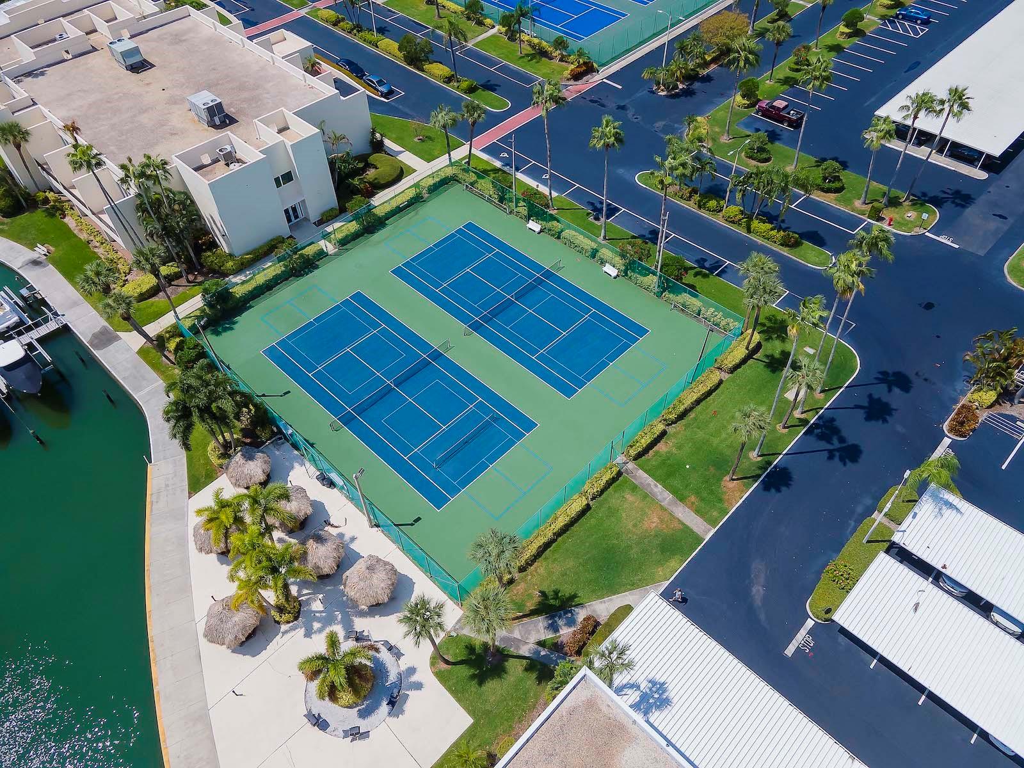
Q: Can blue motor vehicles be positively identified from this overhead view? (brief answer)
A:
Yes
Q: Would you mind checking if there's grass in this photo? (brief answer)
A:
Yes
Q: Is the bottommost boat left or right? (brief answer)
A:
left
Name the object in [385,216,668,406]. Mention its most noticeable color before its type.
blue tennis court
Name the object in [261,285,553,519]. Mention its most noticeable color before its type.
blue tennis court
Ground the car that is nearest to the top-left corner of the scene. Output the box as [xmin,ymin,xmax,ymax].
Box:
[338,56,368,76]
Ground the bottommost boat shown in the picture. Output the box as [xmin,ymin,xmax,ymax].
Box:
[0,333,44,398]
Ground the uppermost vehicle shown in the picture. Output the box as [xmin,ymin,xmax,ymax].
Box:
[896,5,932,22]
